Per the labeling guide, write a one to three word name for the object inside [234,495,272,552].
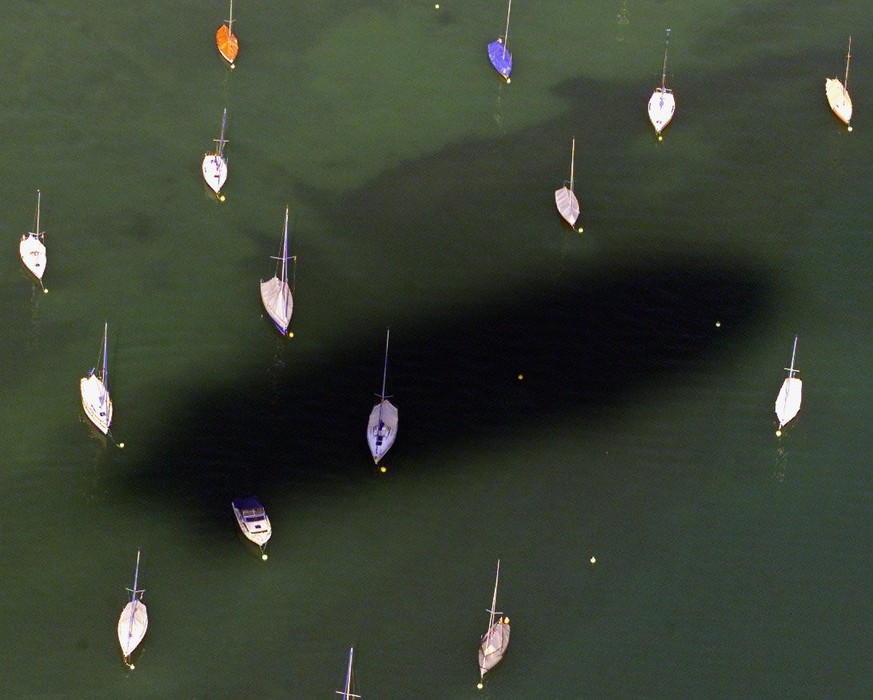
boat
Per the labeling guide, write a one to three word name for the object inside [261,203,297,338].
boat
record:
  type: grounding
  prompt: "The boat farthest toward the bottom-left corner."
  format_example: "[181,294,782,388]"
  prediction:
[116,549,149,661]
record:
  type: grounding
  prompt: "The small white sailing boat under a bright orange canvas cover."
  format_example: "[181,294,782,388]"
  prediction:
[217,0,240,66]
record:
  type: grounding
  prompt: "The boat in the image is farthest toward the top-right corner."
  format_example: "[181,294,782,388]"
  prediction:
[824,34,853,127]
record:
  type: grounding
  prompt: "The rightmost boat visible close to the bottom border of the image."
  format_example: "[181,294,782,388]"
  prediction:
[477,558,514,681]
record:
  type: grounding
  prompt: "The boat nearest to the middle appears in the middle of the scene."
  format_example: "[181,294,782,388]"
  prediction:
[365,327,399,469]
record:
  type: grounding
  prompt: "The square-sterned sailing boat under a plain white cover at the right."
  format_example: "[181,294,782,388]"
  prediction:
[775,334,804,429]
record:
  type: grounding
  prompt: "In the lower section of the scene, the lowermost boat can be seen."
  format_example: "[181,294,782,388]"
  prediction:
[333,646,360,700]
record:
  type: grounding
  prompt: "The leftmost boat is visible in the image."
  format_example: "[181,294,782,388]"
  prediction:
[21,189,49,284]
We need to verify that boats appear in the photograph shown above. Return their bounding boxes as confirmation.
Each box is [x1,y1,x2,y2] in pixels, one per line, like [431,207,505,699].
[333,646,360,700]
[365,327,399,469]
[648,28,676,138]
[489,0,513,81]
[824,34,853,127]
[217,0,240,66]
[261,203,297,338]
[477,558,514,681]
[775,334,804,429]
[82,321,114,439]
[234,495,272,552]
[21,189,49,284]
[203,107,228,199]
[116,549,149,661]
[555,136,581,229]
